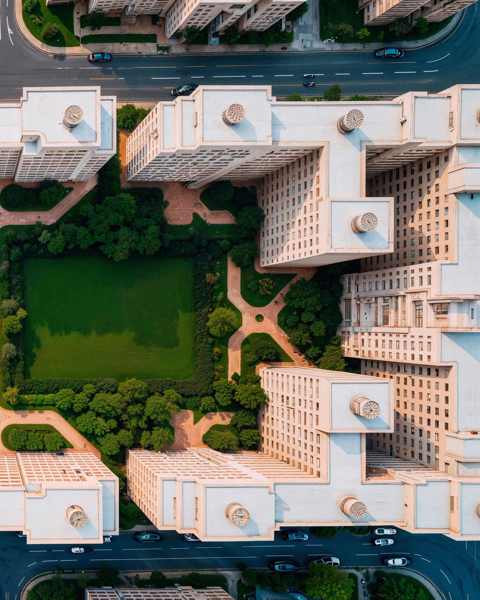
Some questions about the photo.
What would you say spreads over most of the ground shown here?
buildings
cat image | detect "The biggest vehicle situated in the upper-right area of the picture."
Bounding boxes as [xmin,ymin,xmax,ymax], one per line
[374,45,403,59]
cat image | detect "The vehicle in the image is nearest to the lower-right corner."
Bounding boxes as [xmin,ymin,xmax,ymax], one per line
[383,556,410,569]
